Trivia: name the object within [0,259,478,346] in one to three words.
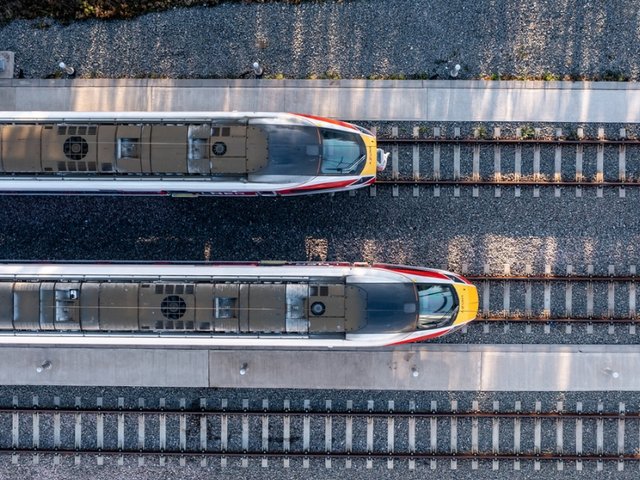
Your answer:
train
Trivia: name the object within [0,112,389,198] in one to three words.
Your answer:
train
